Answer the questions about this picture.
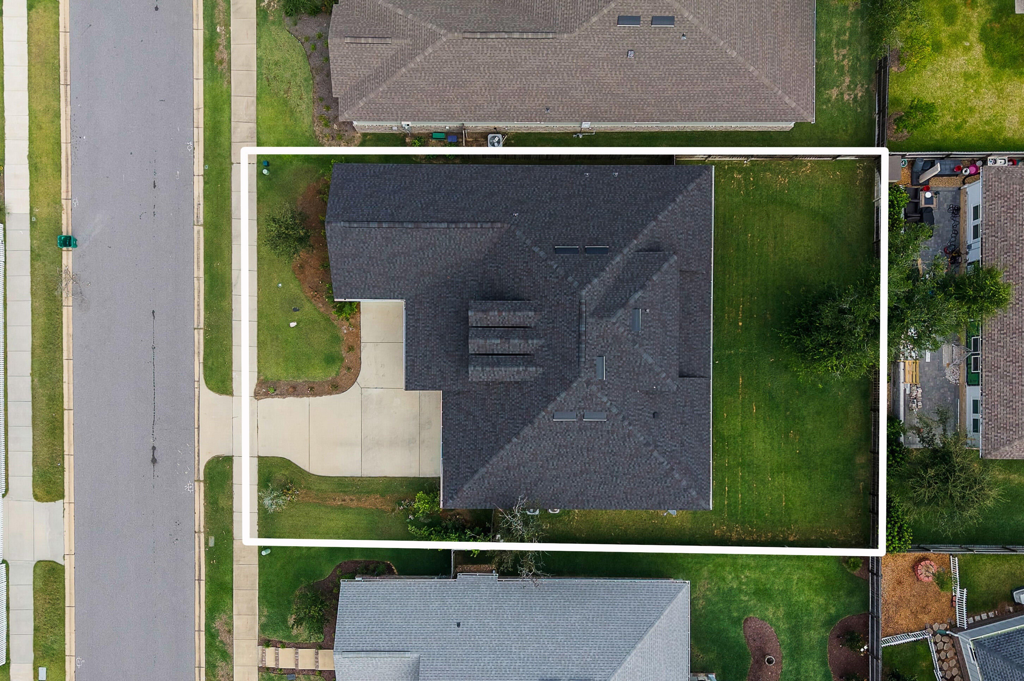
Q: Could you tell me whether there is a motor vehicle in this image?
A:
No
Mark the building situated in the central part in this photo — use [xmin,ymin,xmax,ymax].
[326,163,714,511]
